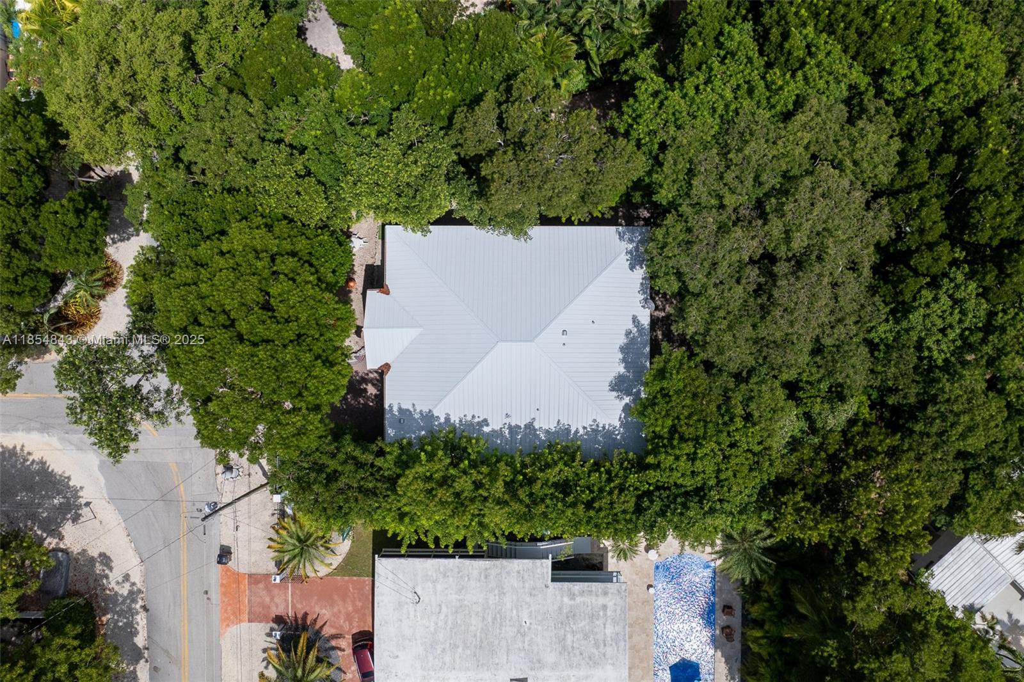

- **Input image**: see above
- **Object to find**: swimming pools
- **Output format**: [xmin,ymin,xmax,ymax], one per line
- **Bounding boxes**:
[651,550,718,682]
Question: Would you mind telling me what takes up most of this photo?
trees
